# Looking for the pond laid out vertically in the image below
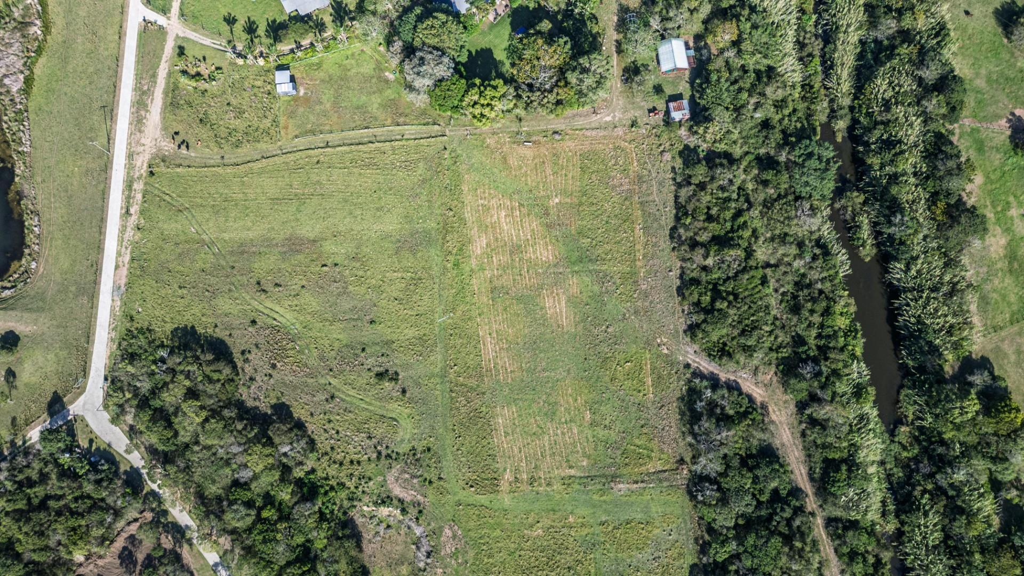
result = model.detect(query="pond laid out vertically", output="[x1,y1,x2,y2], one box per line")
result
[0,140,24,277]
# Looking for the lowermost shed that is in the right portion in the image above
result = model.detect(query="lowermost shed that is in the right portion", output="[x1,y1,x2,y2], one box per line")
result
[668,100,690,123]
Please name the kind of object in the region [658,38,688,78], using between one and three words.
building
